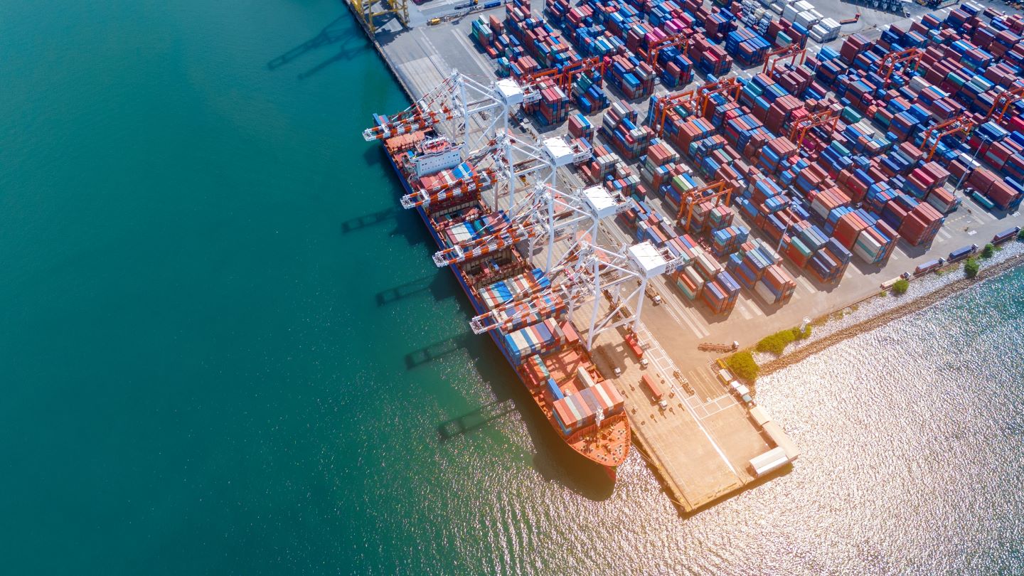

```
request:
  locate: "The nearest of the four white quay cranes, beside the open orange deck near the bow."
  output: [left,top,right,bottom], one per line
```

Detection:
[467,237,682,356]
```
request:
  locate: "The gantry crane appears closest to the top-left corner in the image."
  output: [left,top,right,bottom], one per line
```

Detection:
[358,0,407,34]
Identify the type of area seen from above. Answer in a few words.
port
